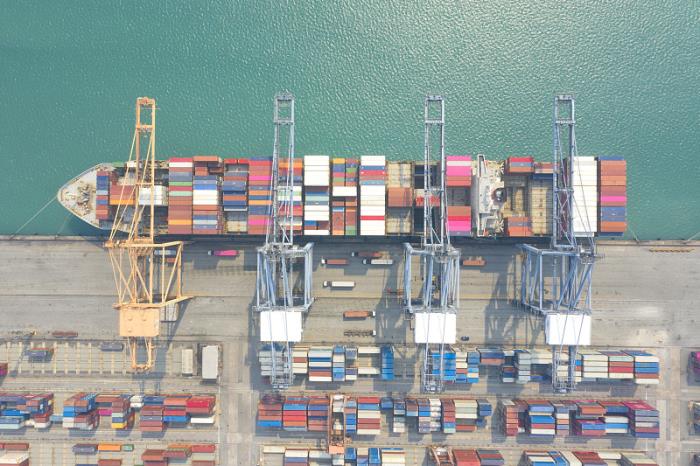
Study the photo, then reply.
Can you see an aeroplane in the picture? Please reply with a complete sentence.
No, this view has no aeroplane in it.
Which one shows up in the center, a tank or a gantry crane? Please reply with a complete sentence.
Looking in the center, you will find a gantry crane.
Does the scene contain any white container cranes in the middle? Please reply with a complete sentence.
Yes, a white container crane can be seen in the middle.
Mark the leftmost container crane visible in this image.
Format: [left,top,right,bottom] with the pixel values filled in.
[100,90,204,371]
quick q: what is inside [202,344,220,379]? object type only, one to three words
shed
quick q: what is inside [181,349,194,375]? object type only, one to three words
shed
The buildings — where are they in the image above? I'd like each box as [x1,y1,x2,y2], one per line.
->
[202,344,220,379]
[181,349,194,375]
